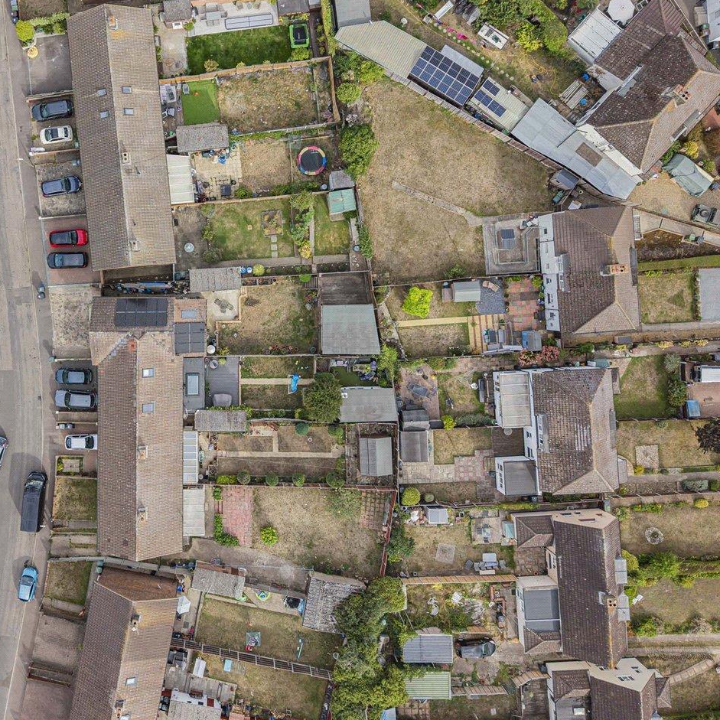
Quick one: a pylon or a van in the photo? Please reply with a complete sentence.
Looking from above, you can make out a van.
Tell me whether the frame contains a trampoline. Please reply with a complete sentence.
Yes, the frame does contain a trampoline.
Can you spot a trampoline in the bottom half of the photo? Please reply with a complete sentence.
No, I see no trampoline in the bottom half of the photo.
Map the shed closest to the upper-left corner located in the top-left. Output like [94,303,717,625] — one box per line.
[164,0,193,26]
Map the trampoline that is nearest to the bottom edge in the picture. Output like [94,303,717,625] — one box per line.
[297,145,328,175]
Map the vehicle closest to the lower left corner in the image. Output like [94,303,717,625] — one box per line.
[17,565,39,604]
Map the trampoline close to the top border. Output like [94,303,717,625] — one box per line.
[291,20,310,47]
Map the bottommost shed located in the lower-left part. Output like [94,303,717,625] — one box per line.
[167,683,221,720]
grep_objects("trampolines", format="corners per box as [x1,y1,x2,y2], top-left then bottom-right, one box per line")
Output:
[297,145,328,175]
[291,20,310,47]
